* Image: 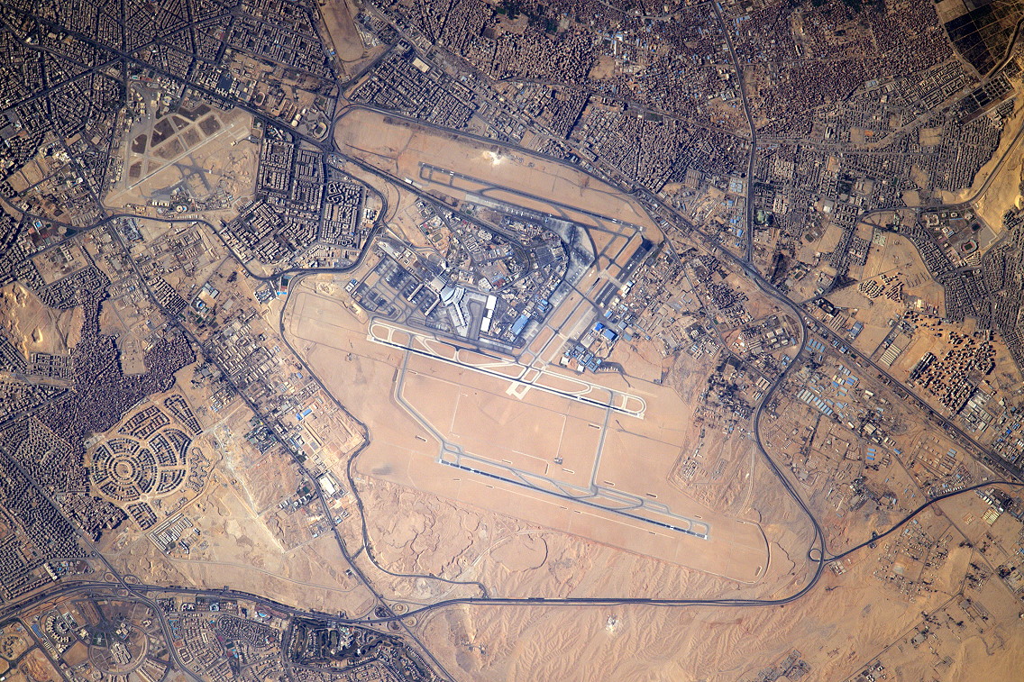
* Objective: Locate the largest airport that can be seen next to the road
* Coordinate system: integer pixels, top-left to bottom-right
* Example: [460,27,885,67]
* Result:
[352,161,758,568]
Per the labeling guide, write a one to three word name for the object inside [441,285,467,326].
building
